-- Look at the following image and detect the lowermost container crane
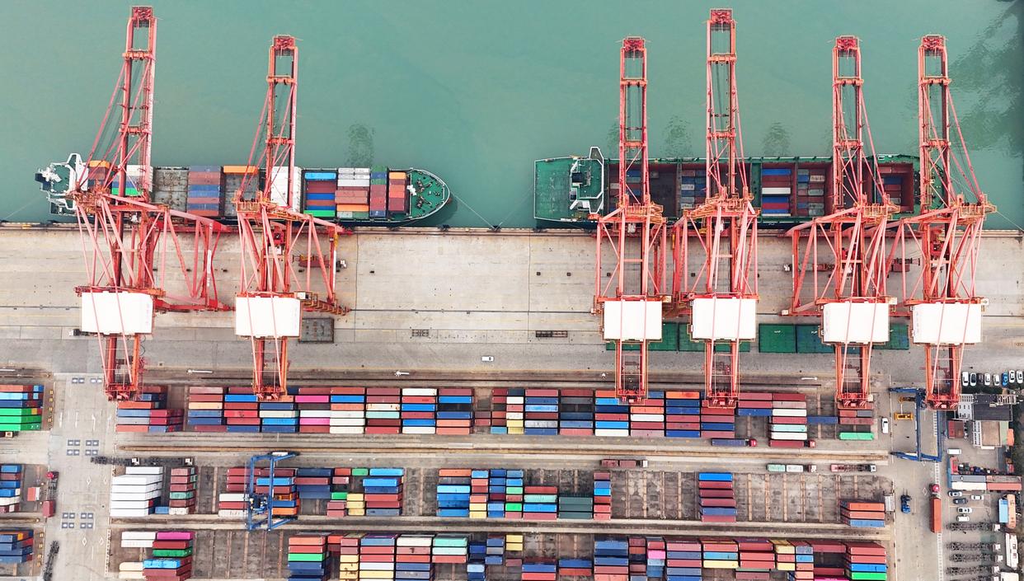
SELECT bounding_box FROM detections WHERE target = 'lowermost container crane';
[242,451,300,532]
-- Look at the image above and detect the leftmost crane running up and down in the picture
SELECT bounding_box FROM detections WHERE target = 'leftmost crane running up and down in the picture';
[75,6,237,407]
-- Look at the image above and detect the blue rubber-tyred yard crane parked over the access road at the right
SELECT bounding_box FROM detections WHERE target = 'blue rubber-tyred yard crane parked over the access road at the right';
[889,387,944,462]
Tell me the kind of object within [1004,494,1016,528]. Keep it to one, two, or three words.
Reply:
vehicle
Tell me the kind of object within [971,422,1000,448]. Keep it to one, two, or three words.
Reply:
building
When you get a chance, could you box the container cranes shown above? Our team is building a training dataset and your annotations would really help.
[242,451,300,532]
[663,12,758,413]
[75,6,237,407]
[861,39,1009,415]
[583,36,674,412]
[772,39,910,414]
[889,387,944,462]
[229,33,360,408]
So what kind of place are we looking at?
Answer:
port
